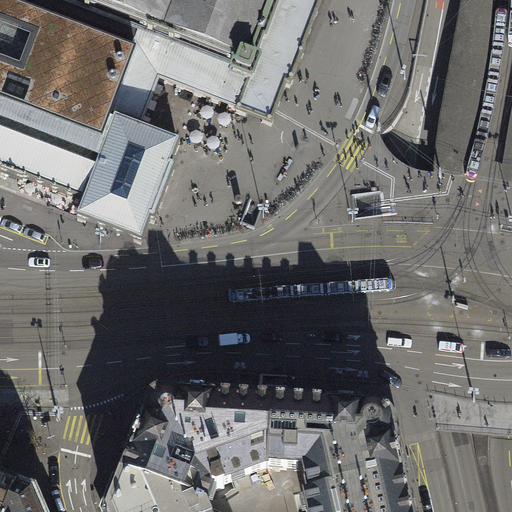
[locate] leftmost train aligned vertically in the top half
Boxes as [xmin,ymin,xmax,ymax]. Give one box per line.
[465,9,506,186]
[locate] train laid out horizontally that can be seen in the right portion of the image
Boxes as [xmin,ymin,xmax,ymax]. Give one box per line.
[227,280,396,304]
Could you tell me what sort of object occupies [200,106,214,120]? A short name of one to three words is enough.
umbrella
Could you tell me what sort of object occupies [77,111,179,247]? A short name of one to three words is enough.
building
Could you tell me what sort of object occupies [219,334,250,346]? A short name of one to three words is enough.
vehicle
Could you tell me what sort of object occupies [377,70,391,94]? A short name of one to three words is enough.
car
